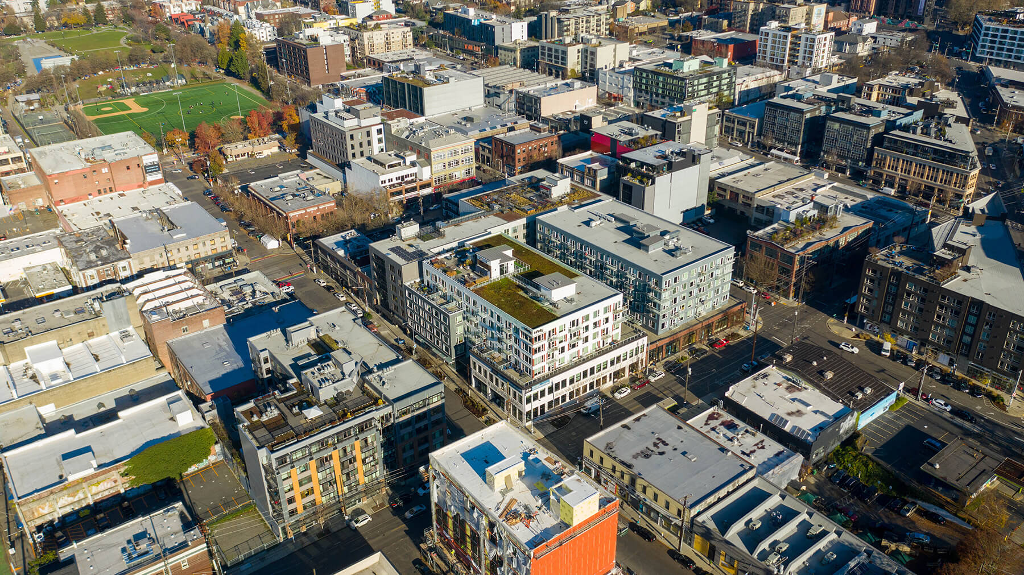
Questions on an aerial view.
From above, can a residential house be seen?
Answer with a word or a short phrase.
Yes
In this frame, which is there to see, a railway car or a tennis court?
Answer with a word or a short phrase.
tennis court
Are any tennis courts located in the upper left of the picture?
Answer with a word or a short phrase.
Yes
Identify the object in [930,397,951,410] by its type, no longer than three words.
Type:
vehicle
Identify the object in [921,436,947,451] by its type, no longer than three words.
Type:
vehicle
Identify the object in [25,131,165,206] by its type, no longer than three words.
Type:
building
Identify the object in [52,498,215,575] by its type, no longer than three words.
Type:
building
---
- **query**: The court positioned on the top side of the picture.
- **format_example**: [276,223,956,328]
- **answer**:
[21,108,78,147]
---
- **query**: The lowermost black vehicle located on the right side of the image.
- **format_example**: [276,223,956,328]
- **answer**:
[674,552,696,571]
